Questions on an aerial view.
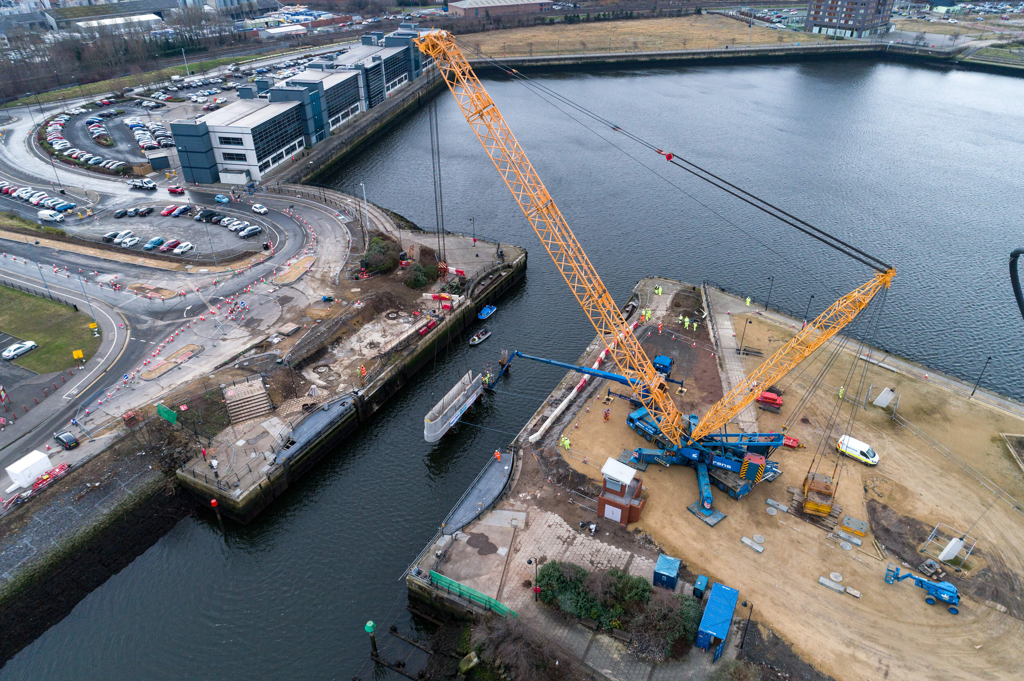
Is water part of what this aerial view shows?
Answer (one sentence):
Yes, there is water in the image.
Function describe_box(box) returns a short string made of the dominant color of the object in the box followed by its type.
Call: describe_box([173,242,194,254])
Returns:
white vehicle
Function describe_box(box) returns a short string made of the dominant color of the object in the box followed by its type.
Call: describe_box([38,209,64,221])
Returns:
white vehicle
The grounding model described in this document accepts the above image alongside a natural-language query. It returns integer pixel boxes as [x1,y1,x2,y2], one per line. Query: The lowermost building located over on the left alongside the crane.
[168,27,434,185]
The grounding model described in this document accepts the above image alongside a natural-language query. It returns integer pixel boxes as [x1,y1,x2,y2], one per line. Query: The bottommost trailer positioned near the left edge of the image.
[0,447,52,494]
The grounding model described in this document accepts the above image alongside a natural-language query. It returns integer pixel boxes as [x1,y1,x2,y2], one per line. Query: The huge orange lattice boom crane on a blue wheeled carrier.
[400,37,896,517]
